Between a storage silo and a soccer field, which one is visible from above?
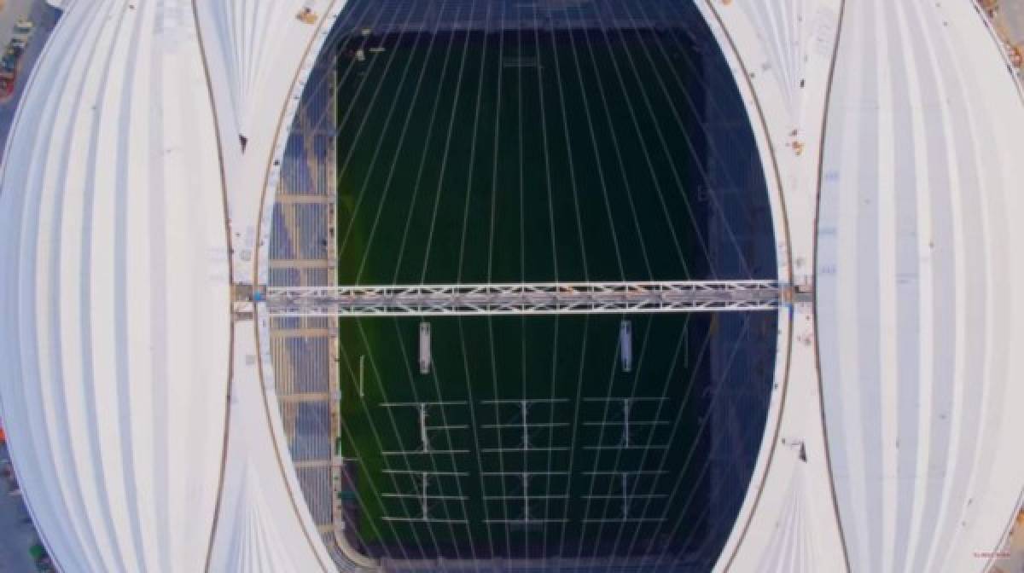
soccer field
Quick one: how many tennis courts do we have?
0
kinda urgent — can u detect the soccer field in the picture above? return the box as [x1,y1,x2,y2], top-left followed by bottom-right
[338,35,706,551]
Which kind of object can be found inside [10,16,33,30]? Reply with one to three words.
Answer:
vehicle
